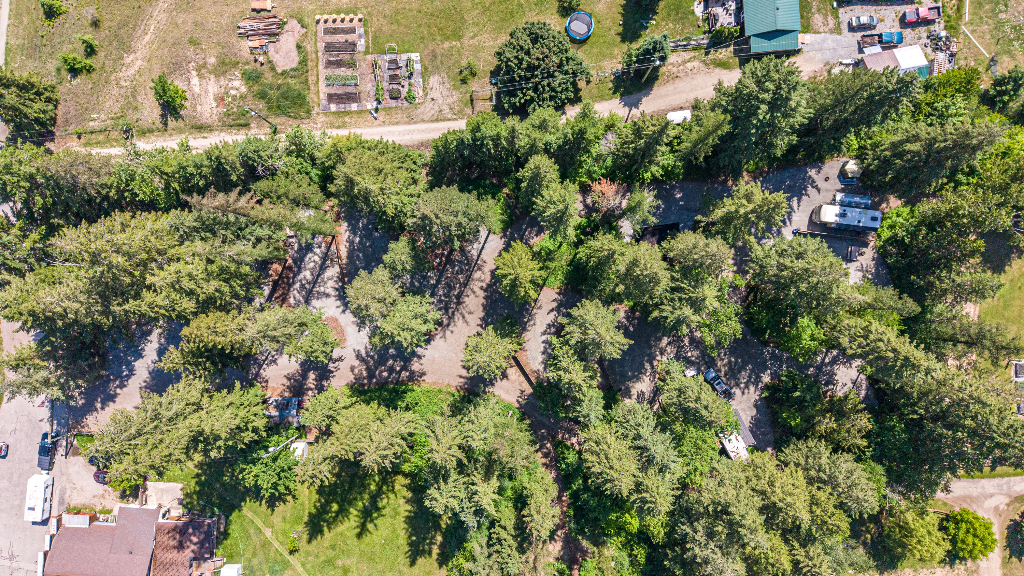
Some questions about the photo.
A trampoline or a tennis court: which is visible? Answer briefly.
trampoline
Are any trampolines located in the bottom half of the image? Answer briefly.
No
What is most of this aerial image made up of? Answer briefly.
trees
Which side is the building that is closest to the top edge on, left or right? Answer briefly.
right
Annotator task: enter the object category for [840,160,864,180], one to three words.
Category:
tent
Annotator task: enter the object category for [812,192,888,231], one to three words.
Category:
camper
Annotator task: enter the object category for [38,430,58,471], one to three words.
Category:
vehicle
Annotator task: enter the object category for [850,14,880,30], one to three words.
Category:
car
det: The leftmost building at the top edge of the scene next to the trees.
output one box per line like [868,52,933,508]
[739,0,803,54]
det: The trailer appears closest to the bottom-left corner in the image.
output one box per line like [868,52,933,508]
[22,470,52,527]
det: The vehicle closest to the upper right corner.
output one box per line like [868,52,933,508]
[903,6,944,24]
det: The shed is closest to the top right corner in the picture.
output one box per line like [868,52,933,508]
[863,43,938,80]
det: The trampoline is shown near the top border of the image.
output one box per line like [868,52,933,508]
[567,8,595,39]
